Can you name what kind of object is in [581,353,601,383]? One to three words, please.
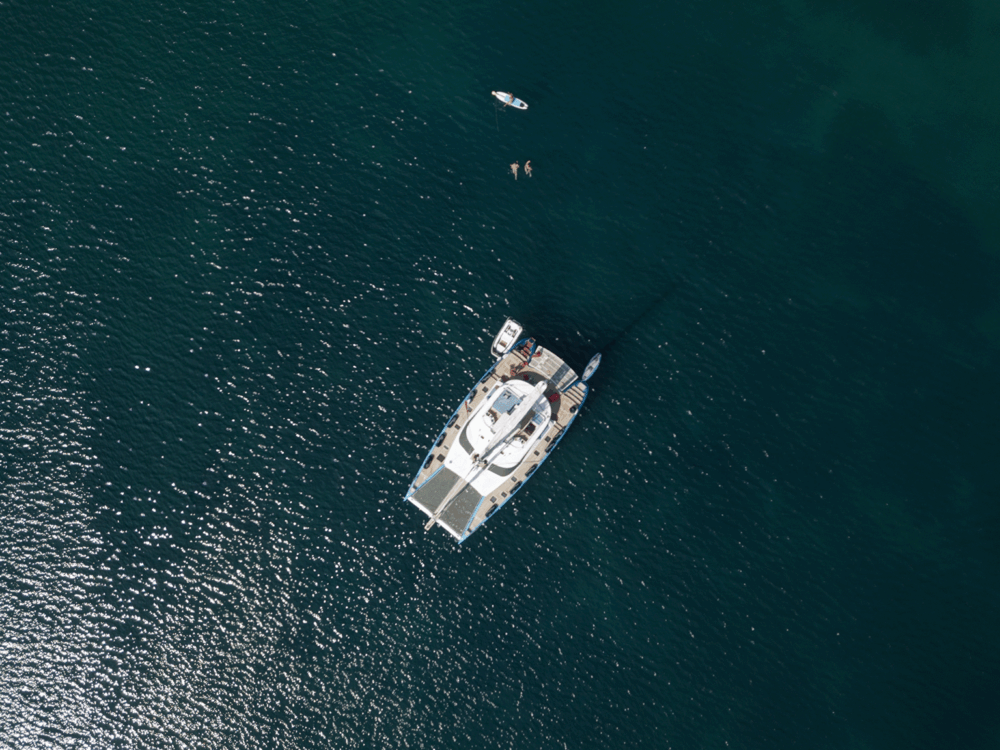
boat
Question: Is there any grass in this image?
No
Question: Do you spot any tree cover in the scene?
No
